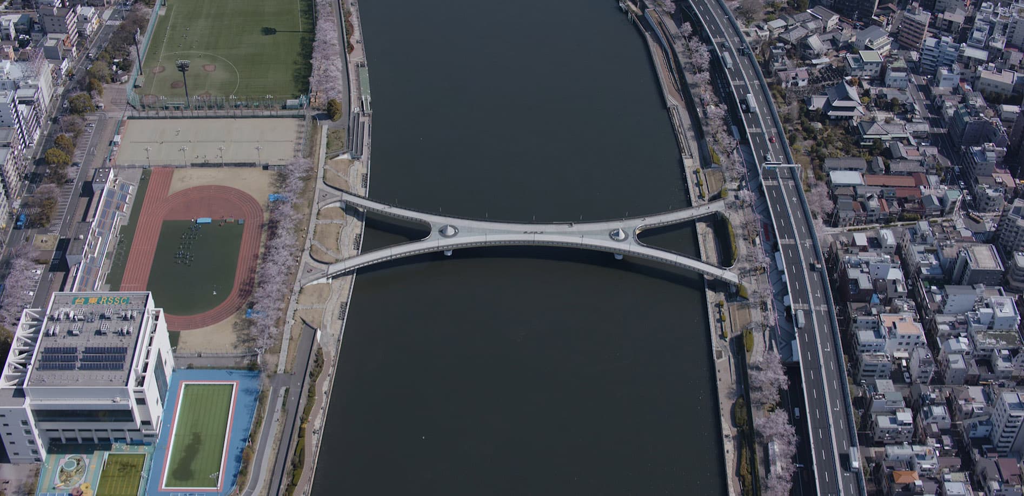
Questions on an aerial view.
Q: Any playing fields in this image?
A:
Yes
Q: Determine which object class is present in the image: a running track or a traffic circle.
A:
running track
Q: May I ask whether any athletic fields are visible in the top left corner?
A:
Yes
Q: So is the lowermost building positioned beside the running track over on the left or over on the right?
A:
left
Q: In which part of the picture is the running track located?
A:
left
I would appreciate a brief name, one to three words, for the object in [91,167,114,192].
building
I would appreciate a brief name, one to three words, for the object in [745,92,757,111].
vehicle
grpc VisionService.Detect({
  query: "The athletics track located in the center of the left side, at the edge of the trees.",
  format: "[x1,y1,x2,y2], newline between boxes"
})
[119,168,264,331]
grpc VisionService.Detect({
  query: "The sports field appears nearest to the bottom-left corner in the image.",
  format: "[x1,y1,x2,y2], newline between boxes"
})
[165,384,234,487]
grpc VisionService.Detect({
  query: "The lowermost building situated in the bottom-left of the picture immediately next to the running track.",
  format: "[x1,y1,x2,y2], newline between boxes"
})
[0,293,176,462]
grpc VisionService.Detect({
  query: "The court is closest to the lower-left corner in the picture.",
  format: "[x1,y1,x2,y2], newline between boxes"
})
[95,452,148,496]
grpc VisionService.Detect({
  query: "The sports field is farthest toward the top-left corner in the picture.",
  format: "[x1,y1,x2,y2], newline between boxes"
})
[130,0,315,104]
